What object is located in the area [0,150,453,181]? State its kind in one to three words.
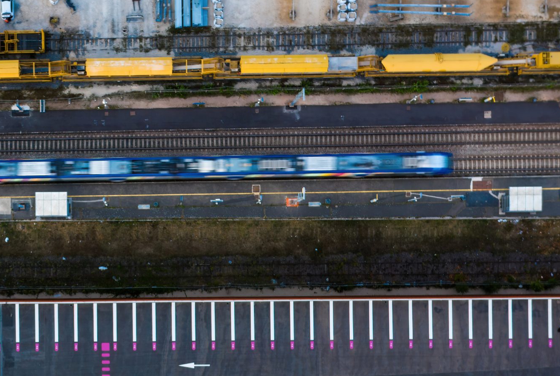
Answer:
train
